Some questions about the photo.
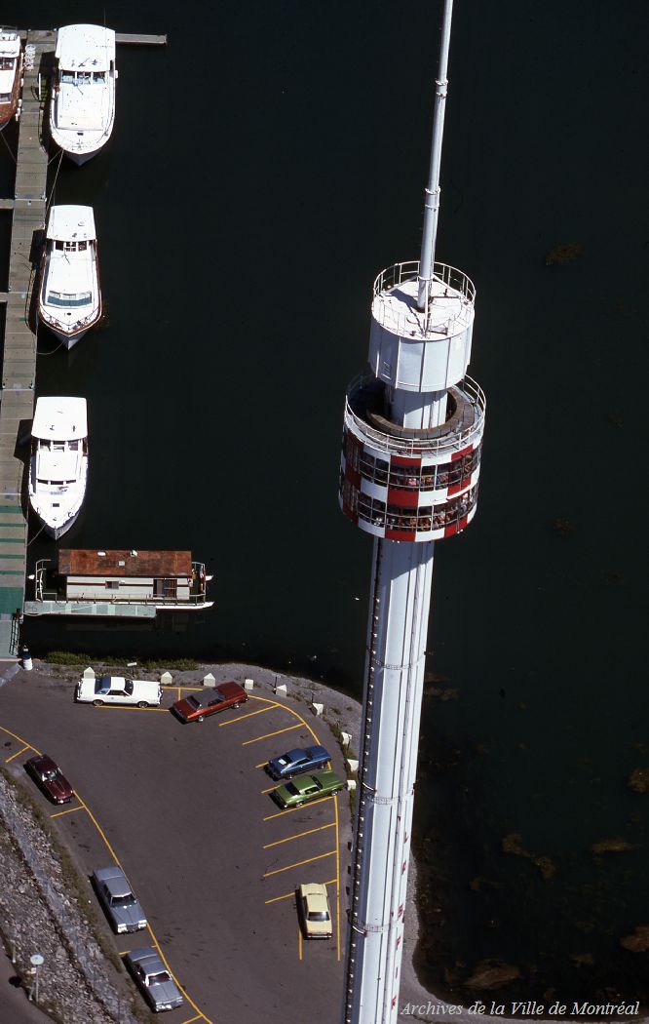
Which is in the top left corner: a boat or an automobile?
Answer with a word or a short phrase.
boat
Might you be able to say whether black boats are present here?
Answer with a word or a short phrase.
No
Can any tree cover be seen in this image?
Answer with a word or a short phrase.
No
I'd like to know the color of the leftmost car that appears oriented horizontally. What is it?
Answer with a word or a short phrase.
white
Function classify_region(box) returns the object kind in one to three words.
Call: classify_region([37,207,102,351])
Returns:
boat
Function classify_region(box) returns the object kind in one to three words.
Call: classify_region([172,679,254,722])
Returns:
car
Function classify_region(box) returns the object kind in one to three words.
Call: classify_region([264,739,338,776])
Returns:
car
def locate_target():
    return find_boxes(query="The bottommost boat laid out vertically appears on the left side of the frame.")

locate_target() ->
[26,398,90,543]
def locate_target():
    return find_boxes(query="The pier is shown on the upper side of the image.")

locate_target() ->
[0,32,163,629]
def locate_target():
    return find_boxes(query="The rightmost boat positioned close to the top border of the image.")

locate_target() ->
[48,4,118,166]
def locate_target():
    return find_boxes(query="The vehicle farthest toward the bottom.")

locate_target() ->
[128,948,181,1012]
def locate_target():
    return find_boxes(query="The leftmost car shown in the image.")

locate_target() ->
[26,755,76,807]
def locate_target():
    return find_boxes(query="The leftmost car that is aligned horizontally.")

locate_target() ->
[76,676,164,707]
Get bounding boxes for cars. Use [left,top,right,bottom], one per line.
[92,866,145,932]
[272,765,348,805]
[264,739,338,776]
[76,676,164,707]
[26,755,76,807]
[128,948,181,1012]
[172,679,254,722]
[301,884,333,939]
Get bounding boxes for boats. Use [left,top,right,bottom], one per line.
[48,4,118,166]
[26,398,90,543]
[37,207,102,351]
[28,549,213,613]
[0,15,24,139]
